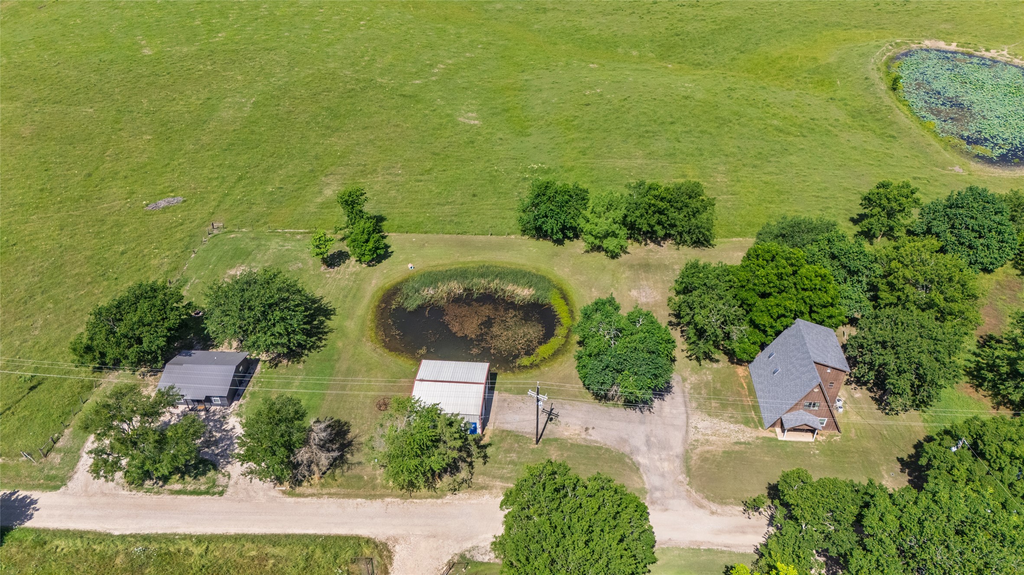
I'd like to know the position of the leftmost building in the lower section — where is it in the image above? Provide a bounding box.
[156,352,249,412]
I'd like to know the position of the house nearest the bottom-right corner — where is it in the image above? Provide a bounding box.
[747,319,852,442]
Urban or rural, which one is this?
rural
